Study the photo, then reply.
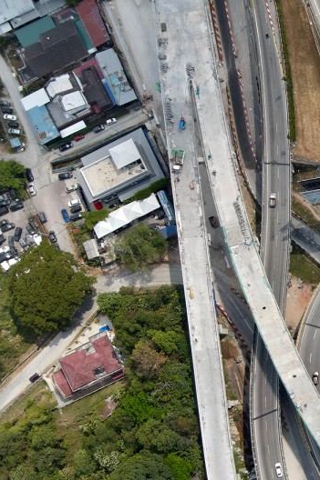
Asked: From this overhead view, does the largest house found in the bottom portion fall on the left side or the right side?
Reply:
left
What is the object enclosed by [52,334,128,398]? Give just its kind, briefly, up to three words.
house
